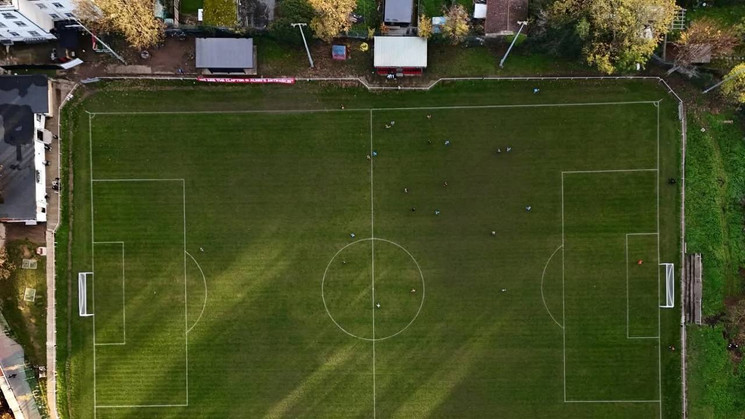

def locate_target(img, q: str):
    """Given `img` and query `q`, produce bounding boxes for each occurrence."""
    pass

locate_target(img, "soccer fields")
[59,84,682,419]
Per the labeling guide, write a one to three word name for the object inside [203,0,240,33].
shed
